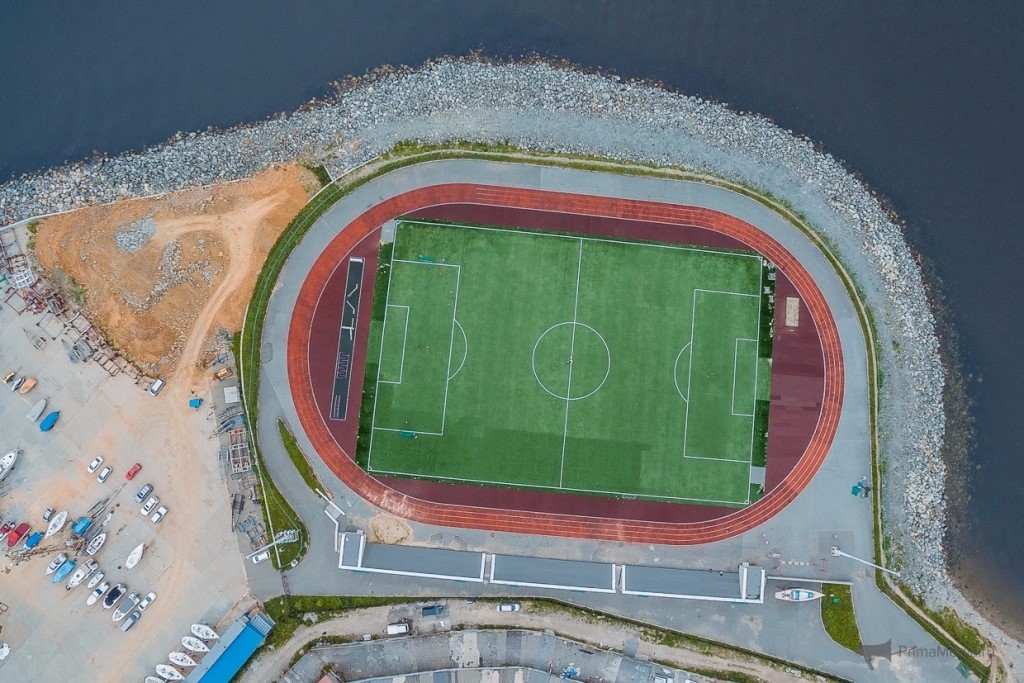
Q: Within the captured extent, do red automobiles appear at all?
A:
Yes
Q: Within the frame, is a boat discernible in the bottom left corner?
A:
Yes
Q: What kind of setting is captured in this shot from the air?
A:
sports ground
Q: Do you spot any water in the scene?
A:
Yes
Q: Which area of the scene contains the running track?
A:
center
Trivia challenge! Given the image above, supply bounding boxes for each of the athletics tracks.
[287,183,844,546]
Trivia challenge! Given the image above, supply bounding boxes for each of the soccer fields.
[355,217,776,509]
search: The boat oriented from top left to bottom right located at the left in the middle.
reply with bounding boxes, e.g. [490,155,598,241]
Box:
[62,340,80,362]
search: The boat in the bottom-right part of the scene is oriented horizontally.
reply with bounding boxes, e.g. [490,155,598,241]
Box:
[774,588,826,602]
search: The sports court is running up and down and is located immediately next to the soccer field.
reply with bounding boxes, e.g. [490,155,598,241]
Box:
[330,258,365,420]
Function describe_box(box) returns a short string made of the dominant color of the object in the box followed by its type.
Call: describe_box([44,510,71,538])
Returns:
white boat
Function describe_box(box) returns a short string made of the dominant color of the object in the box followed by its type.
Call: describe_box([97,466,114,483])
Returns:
white car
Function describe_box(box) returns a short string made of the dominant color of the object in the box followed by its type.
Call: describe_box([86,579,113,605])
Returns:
white boat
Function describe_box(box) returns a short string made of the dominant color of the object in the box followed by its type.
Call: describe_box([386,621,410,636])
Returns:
white vehicle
